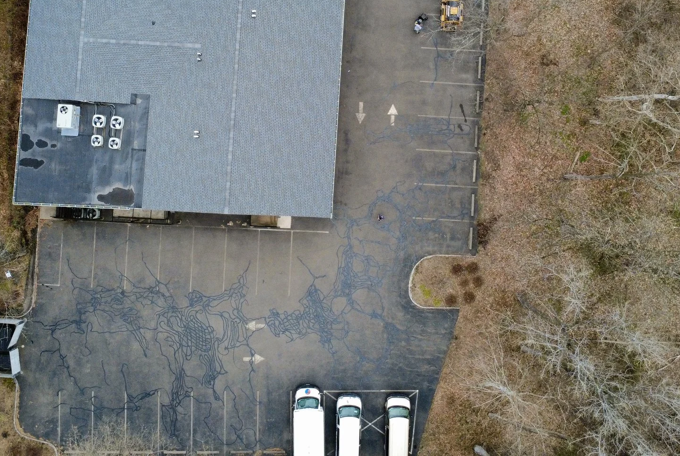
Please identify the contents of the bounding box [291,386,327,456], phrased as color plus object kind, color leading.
white truck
